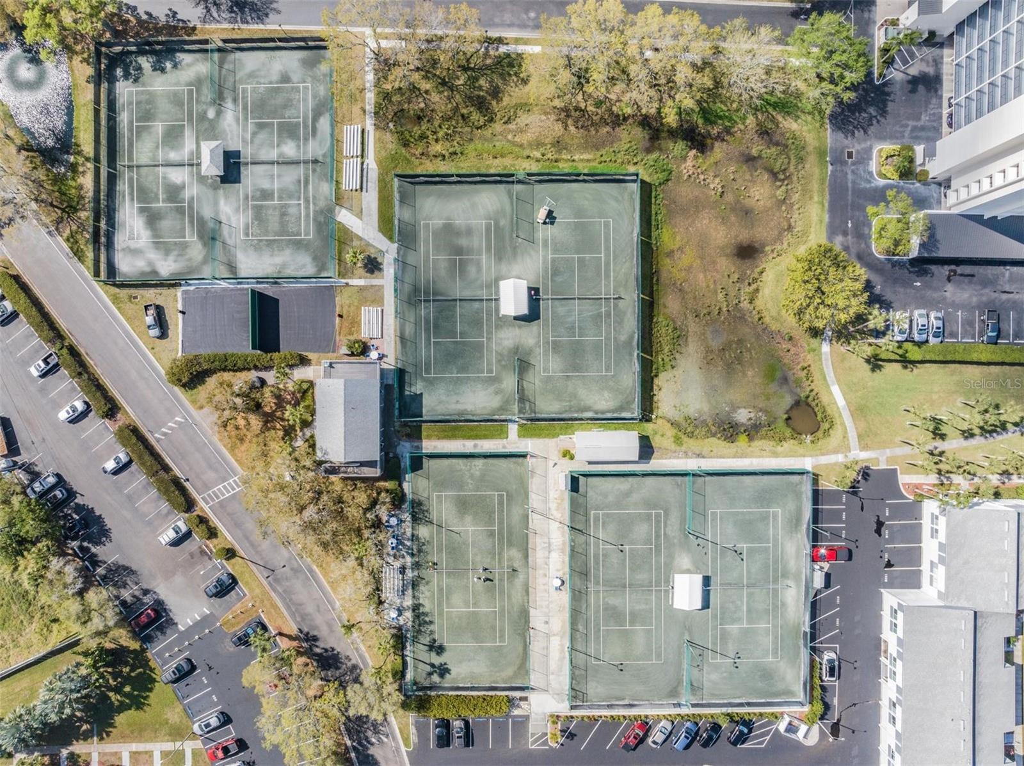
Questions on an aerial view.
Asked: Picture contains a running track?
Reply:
No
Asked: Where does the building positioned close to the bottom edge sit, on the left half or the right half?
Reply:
right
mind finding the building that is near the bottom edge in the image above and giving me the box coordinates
[877,502,1024,766]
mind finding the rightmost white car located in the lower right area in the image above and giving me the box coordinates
[822,650,839,682]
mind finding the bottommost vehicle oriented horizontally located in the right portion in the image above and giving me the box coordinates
[813,547,851,563]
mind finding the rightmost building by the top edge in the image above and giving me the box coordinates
[909,0,1024,218]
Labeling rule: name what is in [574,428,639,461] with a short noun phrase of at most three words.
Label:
shed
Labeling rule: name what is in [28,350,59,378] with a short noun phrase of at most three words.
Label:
truck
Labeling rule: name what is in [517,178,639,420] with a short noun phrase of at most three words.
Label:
tennis court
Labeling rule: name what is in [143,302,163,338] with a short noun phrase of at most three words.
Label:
vehicle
